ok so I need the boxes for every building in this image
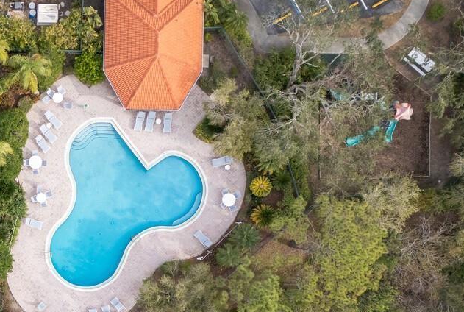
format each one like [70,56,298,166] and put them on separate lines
[102,0,204,111]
